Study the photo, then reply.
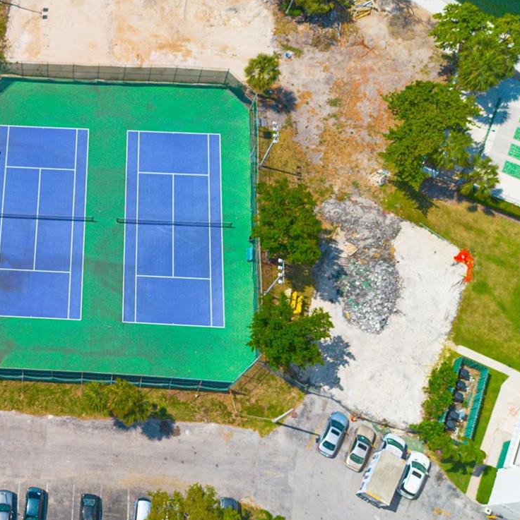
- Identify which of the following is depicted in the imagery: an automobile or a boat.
automobile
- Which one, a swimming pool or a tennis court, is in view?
tennis court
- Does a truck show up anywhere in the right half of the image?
Yes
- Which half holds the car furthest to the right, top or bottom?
bottom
